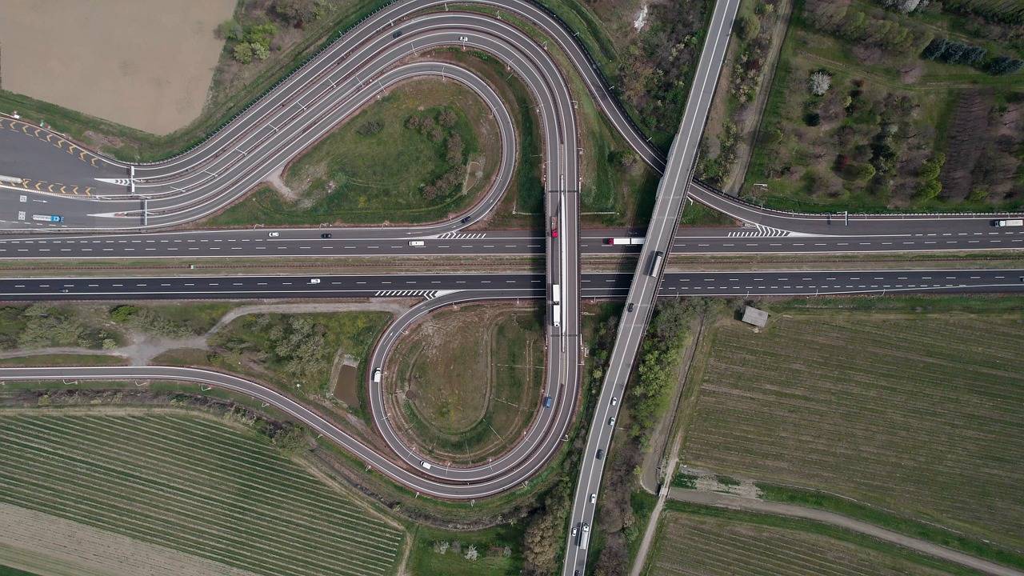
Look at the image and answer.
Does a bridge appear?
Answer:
Yes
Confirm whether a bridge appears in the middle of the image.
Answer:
Yes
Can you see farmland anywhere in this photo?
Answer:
Yes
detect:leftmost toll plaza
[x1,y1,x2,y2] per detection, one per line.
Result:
[0,113,140,230]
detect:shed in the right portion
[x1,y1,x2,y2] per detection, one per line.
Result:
[742,307,767,328]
